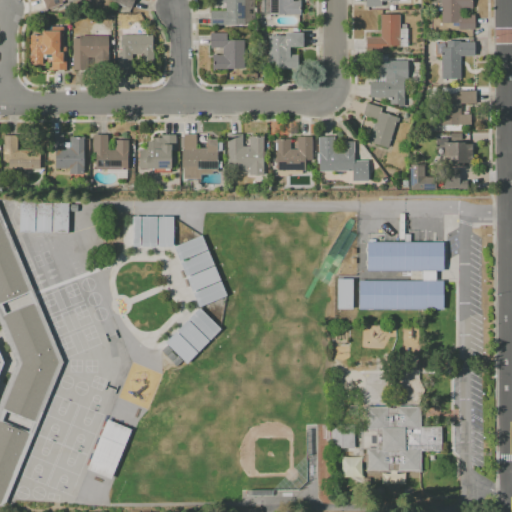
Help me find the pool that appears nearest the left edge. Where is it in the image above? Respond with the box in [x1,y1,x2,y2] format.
[94,172,118,184]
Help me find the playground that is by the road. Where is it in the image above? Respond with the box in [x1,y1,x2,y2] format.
[0,200,163,503]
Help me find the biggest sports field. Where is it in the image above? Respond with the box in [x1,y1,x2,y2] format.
[110,212,333,502]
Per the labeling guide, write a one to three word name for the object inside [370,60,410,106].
house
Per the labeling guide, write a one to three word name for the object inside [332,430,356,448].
building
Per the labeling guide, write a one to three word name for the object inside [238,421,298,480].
baseball field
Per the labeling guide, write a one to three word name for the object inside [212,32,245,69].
house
